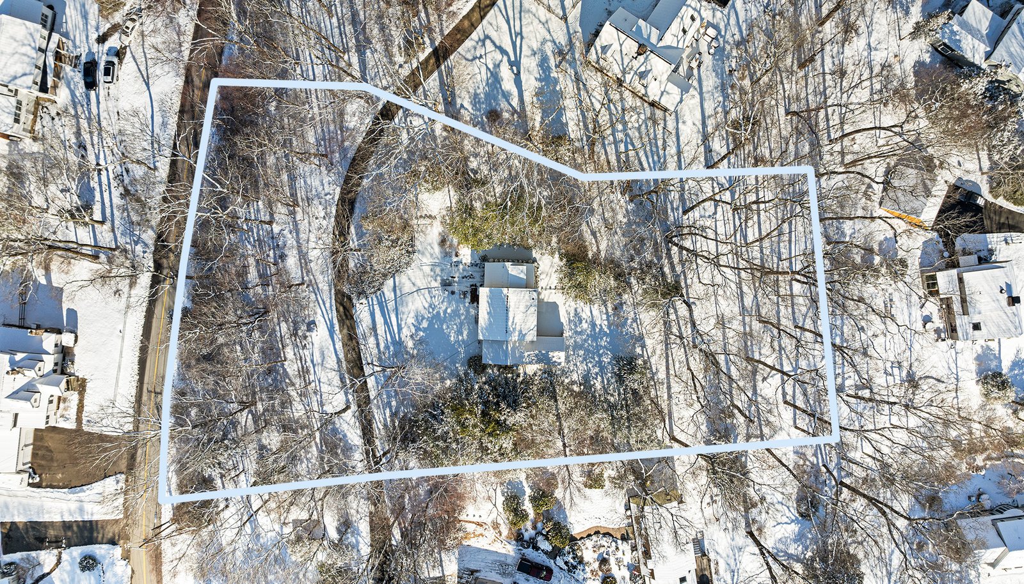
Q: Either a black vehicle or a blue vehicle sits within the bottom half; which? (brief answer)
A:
black vehicle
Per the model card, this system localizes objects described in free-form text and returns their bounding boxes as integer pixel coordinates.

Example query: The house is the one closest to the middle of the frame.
[477,262,565,365]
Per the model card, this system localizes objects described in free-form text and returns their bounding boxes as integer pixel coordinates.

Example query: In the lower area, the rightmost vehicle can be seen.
[516,555,555,582]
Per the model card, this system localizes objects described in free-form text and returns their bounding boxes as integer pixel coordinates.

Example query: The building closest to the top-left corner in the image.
[0,0,83,141]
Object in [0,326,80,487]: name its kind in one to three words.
house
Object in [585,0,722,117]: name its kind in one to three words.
house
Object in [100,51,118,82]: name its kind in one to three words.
car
